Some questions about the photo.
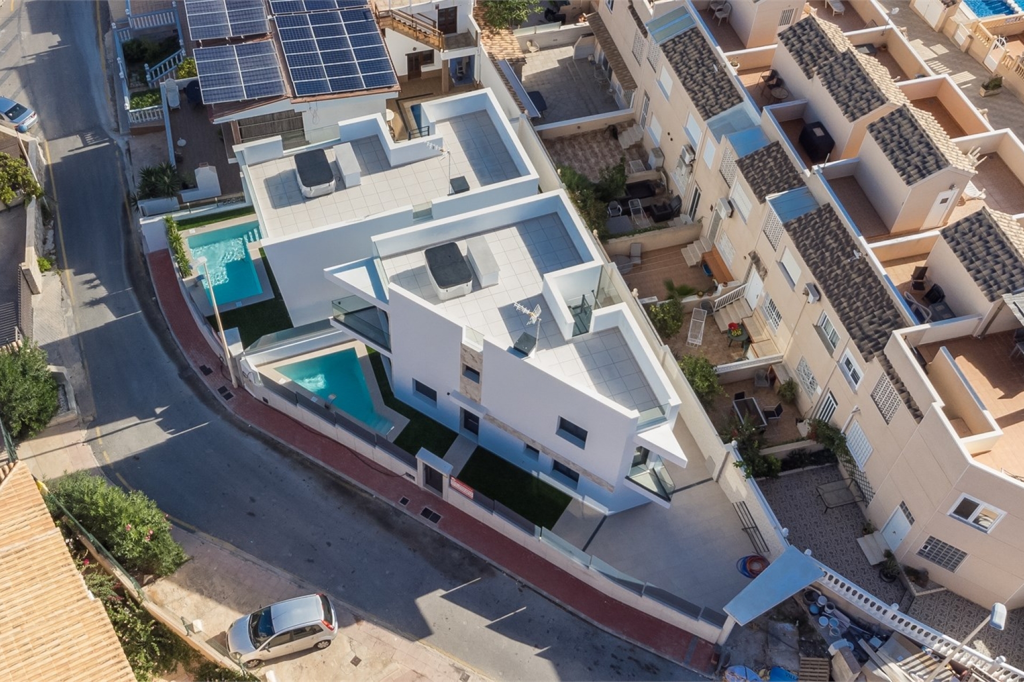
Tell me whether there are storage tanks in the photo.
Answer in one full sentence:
No, no storage tank can be seen from above.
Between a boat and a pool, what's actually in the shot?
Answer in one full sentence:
It is a pool that can be seen here.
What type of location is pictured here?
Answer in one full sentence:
It's a residential area.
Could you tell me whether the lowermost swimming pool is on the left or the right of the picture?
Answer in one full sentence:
It is on the left.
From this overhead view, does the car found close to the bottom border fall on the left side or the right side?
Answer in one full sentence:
The car found close to the bottom border appears in the left half of the scene.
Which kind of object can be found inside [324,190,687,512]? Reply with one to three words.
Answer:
house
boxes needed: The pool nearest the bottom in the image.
[273,347,394,434]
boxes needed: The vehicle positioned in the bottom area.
[223,587,341,661]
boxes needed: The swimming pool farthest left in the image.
[186,226,262,305]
